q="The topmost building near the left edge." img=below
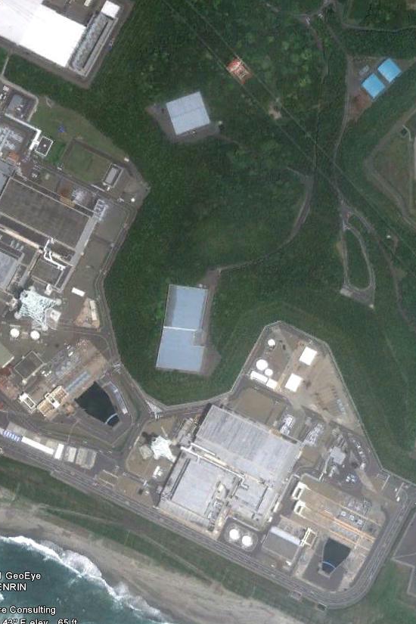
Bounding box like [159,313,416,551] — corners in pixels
[0,0,86,69]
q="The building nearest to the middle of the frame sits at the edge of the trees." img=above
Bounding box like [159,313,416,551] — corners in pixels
[155,284,208,373]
